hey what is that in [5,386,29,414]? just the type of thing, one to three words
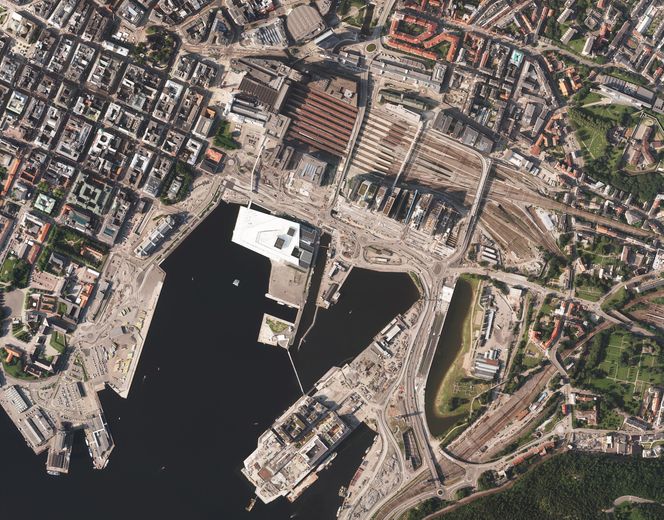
shed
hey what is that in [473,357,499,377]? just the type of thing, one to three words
building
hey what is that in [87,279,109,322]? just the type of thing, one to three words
building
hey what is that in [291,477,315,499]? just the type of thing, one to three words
ship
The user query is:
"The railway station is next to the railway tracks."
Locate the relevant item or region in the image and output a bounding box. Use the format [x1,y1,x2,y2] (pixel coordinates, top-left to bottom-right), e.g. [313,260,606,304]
[224,57,403,177]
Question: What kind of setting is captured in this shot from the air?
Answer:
port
